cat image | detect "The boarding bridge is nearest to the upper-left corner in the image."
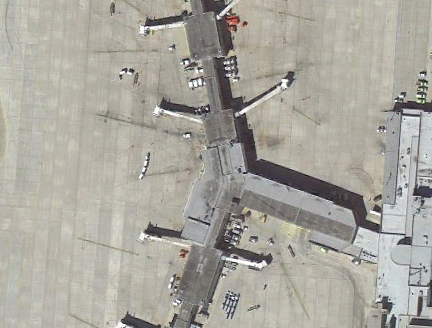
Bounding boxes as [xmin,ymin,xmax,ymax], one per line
[140,21,185,38]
